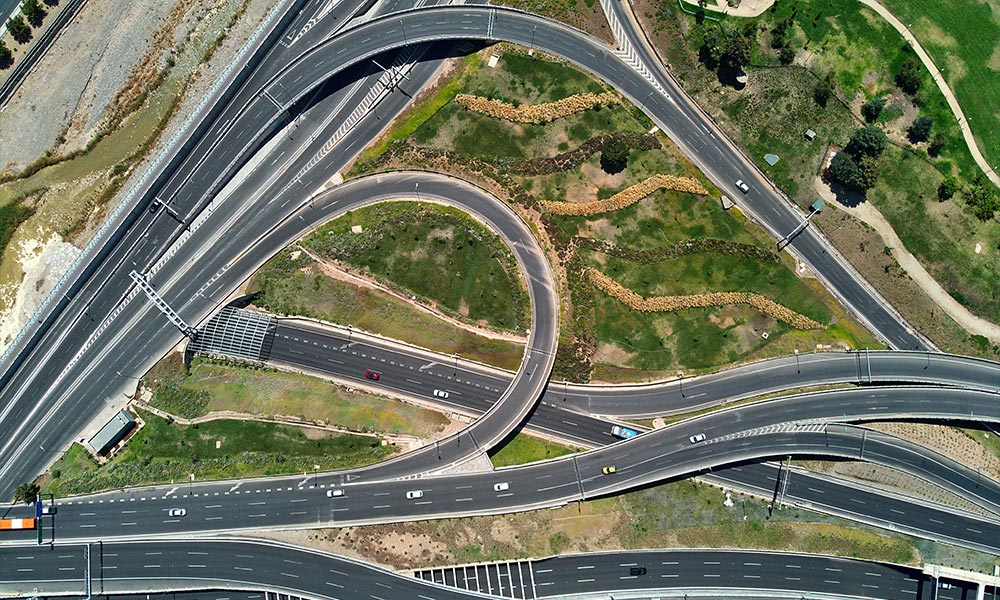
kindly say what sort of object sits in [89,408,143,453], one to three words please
building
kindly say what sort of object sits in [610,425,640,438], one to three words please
vehicle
